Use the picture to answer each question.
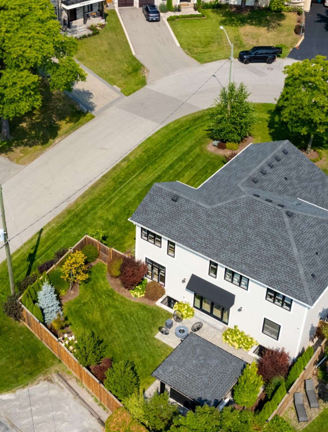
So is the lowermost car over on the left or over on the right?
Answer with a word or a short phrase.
right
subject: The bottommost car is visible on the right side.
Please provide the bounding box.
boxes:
[239,44,280,65]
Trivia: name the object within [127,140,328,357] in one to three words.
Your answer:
house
